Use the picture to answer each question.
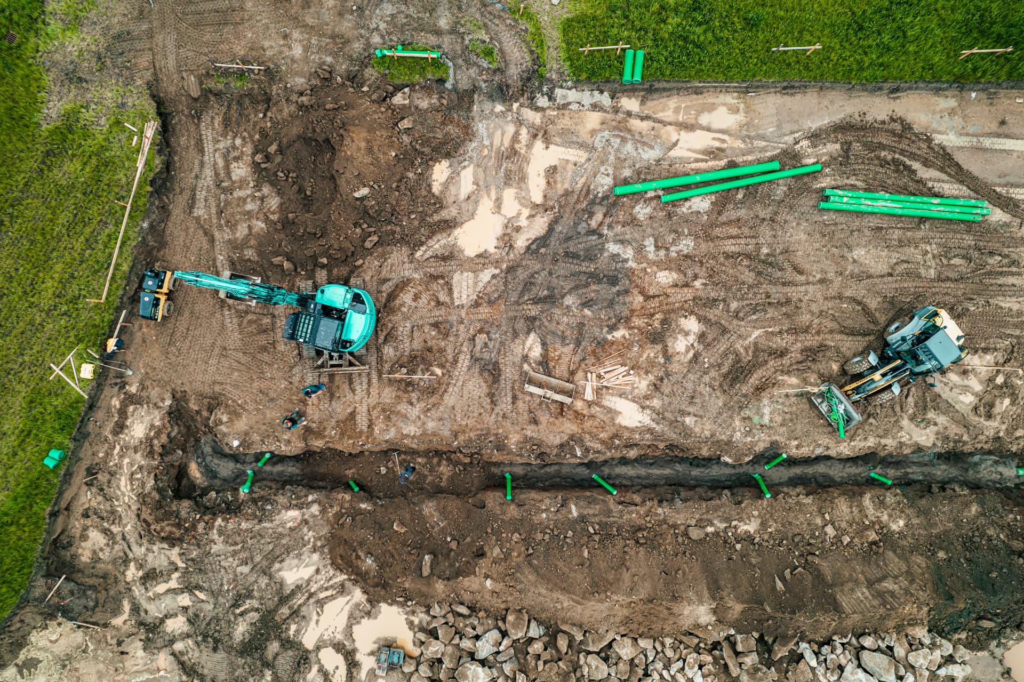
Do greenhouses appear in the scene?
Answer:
No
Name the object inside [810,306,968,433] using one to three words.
work vehicle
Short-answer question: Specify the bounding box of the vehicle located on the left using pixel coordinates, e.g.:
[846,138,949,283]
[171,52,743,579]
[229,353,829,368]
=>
[169,269,381,376]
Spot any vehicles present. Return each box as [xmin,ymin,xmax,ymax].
[169,269,381,376]
[810,306,968,433]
